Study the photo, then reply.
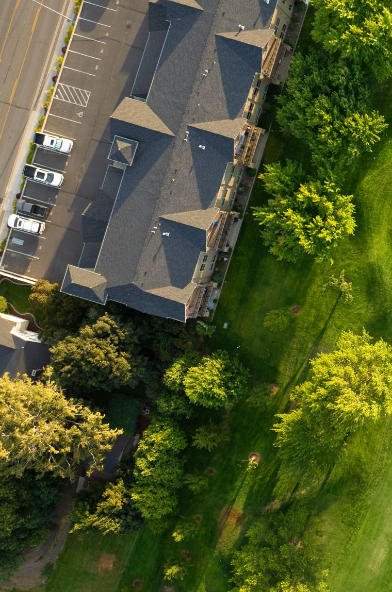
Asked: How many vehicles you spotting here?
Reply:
four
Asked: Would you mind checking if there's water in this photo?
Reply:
No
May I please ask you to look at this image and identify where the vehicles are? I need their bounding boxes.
[9,215,48,235]
[24,165,66,187]
[15,200,54,220]
[34,132,76,154]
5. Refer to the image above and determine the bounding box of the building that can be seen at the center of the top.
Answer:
[64,0,311,323]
